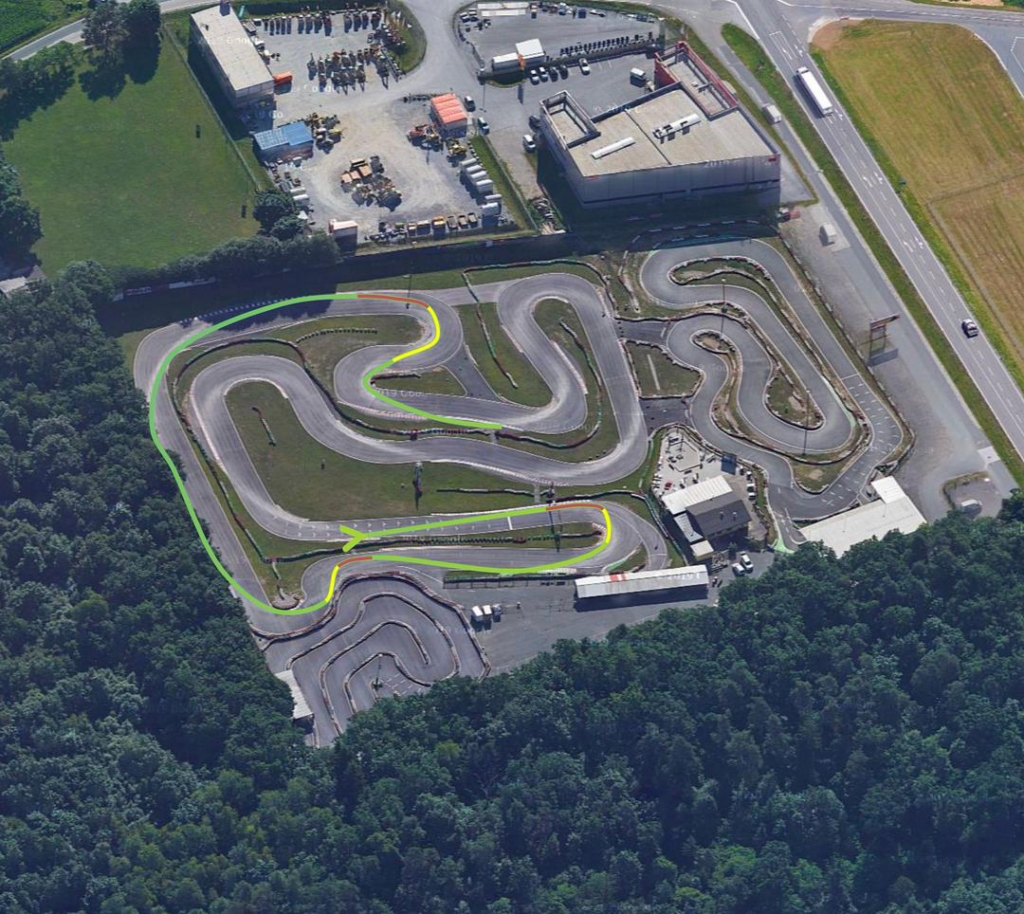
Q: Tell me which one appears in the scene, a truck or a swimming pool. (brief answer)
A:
truck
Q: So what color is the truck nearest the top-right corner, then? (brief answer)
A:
white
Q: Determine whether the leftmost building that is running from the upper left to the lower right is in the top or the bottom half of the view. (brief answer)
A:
top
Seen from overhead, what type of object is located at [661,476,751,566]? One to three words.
building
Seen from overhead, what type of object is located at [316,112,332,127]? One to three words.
work vehicle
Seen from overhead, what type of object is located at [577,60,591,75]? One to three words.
car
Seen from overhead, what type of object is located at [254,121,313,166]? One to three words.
shed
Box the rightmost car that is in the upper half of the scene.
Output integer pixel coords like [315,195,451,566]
[962,321,978,336]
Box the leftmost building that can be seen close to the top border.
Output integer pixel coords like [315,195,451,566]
[191,2,274,115]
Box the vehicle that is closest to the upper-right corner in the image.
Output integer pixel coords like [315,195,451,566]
[794,64,836,114]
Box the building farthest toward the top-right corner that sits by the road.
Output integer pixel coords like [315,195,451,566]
[540,41,779,215]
